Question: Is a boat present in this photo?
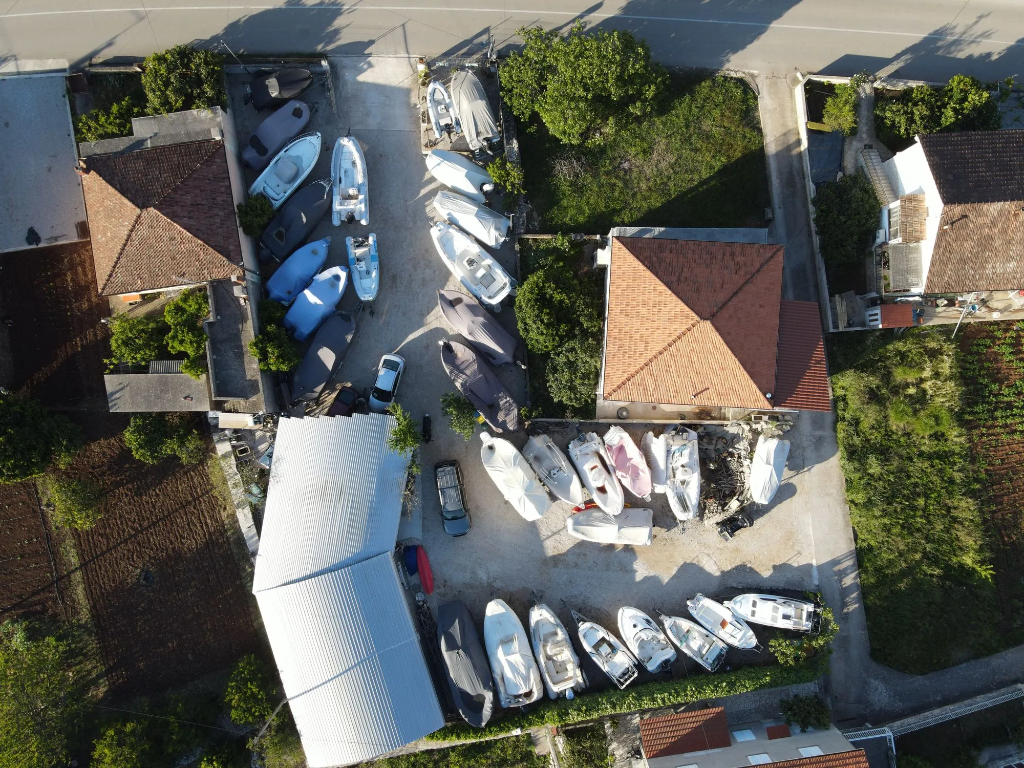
Yes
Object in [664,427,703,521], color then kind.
white boat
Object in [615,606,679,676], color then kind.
white boat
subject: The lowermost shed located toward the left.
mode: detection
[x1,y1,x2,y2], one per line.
[254,413,446,768]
